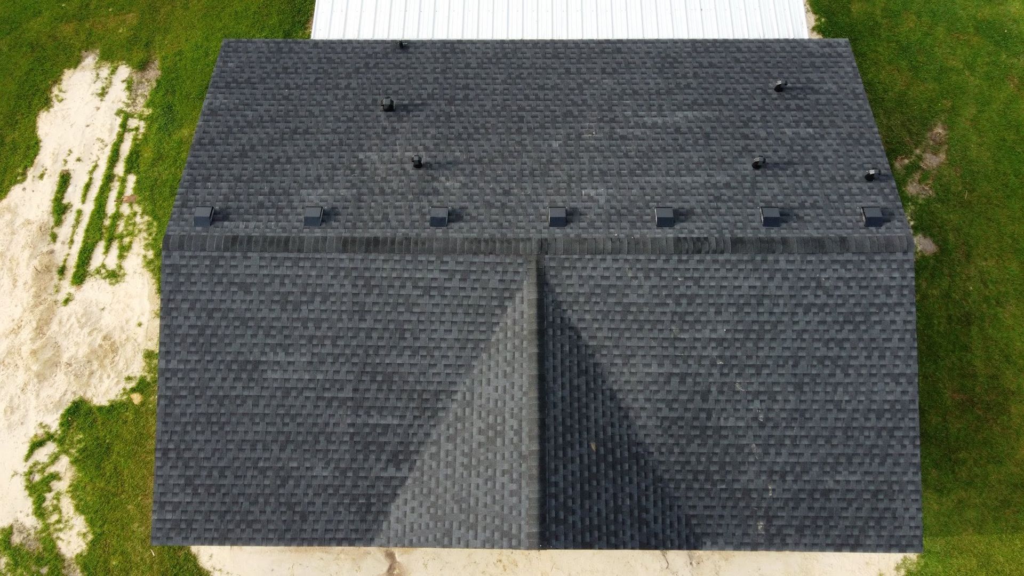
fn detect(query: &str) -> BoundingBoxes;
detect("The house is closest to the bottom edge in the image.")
[151,37,924,554]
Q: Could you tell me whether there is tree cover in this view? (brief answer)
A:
No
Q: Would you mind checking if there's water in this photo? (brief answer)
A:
No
